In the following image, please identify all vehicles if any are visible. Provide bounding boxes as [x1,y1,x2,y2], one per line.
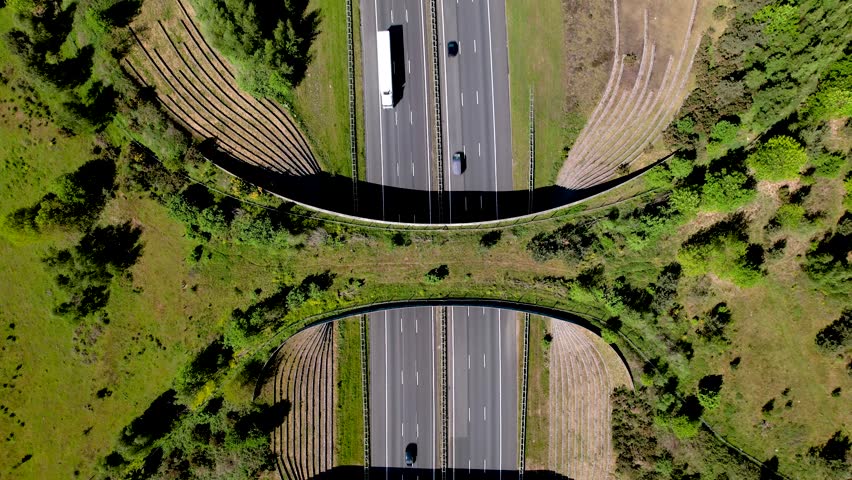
[404,446,414,466]
[452,154,461,176]
[378,32,394,110]
[448,41,456,58]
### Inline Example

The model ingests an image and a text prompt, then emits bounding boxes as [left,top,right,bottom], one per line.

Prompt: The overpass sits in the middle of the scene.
[191,147,677,401]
